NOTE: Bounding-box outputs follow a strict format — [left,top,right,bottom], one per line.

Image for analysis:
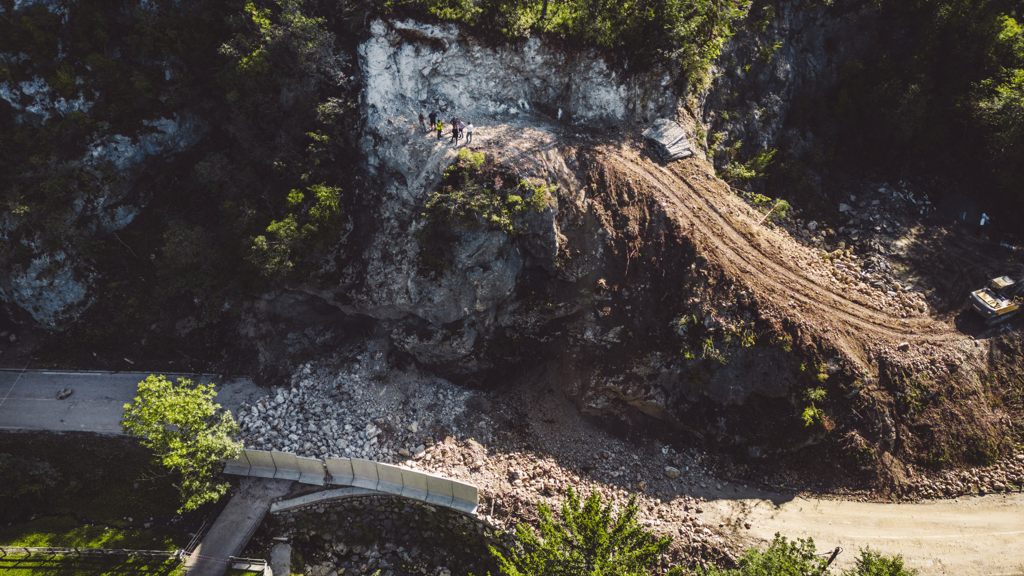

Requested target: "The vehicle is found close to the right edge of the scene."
[963,274,1024,338]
